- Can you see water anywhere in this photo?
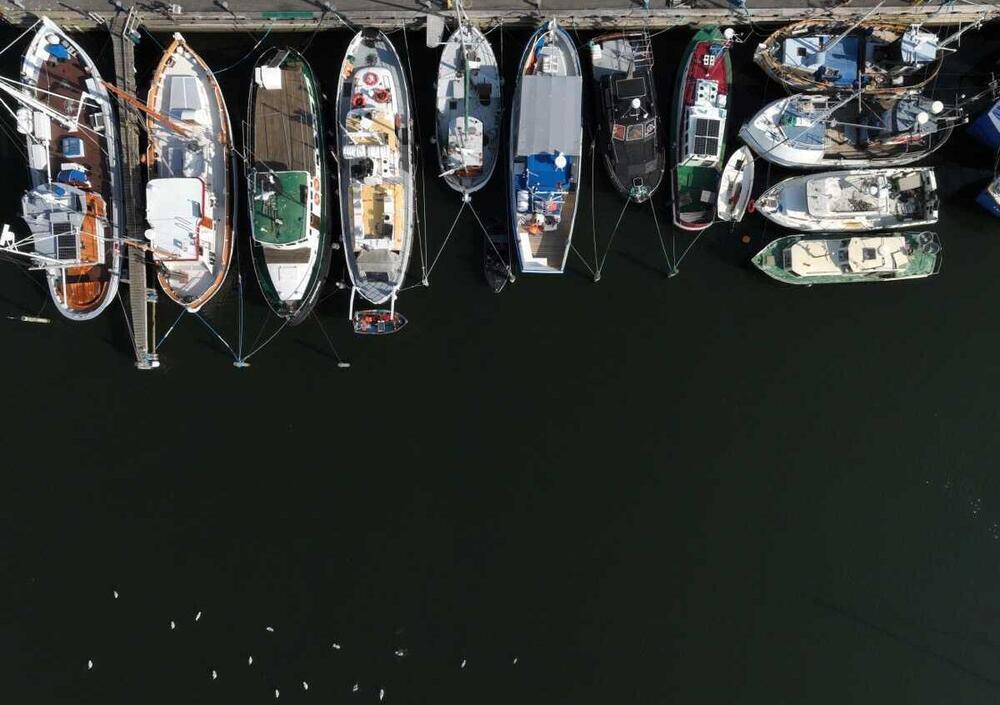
Yes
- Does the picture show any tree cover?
No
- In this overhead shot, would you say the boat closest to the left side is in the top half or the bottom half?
top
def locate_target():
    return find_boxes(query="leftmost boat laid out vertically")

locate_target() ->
[0,16,131,321]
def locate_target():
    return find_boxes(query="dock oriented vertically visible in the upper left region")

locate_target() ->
[112,6,163,368]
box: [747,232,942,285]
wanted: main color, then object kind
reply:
white boat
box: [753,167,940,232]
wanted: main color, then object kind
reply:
white boat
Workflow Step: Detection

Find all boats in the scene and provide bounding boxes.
[354,310,408,335]
[718,149,755,227]
[731,76,996,169]
[955,179,1000,215]
[753,167,940,232]
[591,30,666,206]
[236,47,331,319]
[743,0,1000,97]
[668,25,752,231]
[107,32,241,311]
[0,16,131,321]
[509,17,583,272]
[437,0,500,205]
[947,98,1000,150]
[747,232,942,285]
[337,27,417,320]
